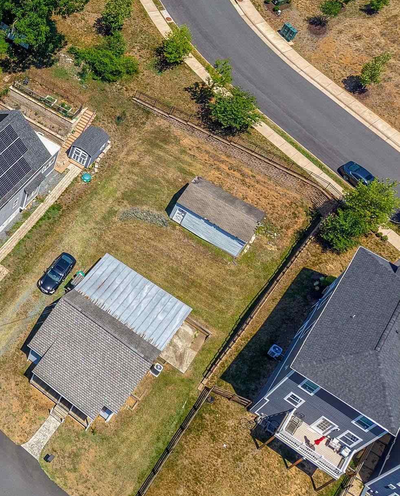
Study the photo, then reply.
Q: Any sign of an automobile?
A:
Yes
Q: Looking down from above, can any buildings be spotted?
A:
Yes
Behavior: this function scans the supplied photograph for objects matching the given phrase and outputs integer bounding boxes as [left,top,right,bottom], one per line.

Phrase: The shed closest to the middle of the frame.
[170,173,266,254]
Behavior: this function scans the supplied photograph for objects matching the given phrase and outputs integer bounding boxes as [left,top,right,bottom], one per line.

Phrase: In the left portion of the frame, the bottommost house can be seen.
[28,252,192,423]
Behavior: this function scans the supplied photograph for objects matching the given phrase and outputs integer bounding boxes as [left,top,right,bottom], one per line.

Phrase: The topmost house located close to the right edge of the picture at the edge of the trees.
[253,246,400,454]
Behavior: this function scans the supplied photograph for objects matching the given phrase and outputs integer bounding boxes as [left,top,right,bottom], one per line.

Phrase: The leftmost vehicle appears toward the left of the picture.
[39,248,79,292]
